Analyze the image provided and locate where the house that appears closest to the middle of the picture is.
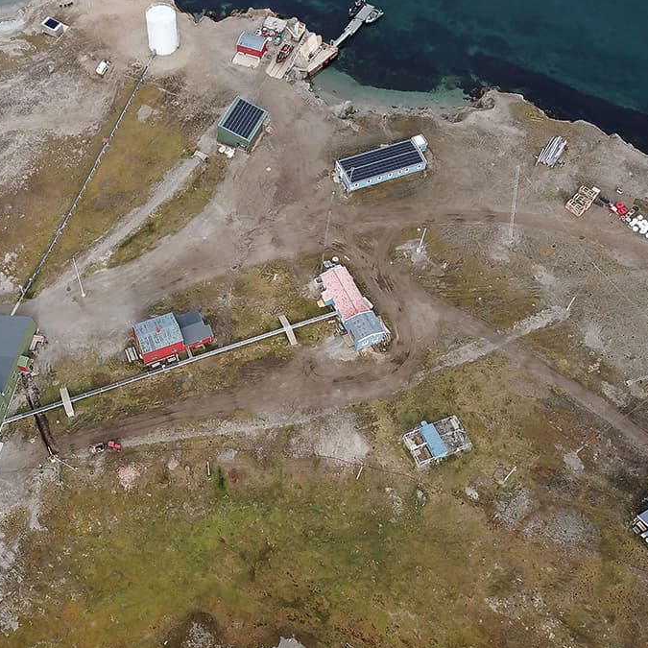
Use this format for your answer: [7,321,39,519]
[315,262,386,351]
